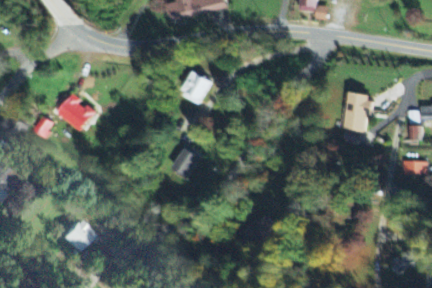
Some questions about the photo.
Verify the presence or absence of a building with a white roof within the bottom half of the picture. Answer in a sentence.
Yes, a building with a white roof shows up within the bottom half of the picture.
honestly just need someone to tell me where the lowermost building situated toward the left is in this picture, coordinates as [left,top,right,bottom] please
[65,221,97,252]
